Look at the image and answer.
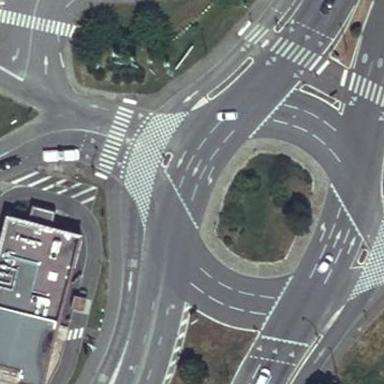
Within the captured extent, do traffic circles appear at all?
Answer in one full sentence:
Yes, a traffic circle can be made out from above.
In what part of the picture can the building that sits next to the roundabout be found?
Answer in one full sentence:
Look in the bottom left portion of the view to spot the building that sits next to the roundabout.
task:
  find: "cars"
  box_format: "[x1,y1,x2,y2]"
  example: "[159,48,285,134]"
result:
[320,0,335,14]
[256,367,272,384]
[316,252,335,276]
[217,111,238,122]
[0,156,21,170]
